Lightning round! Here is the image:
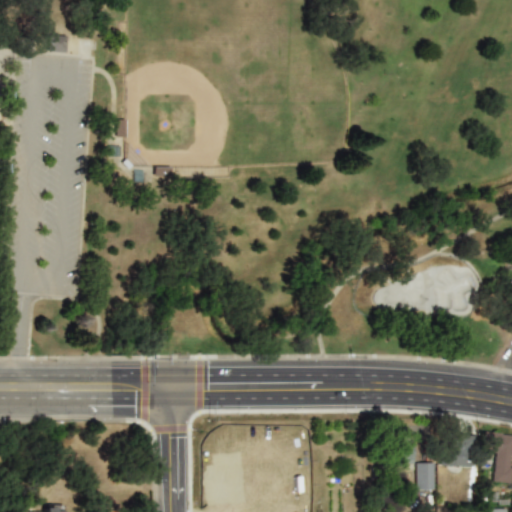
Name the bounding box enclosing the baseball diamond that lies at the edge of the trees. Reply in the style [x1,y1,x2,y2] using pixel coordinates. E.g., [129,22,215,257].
[128,62,228,166]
